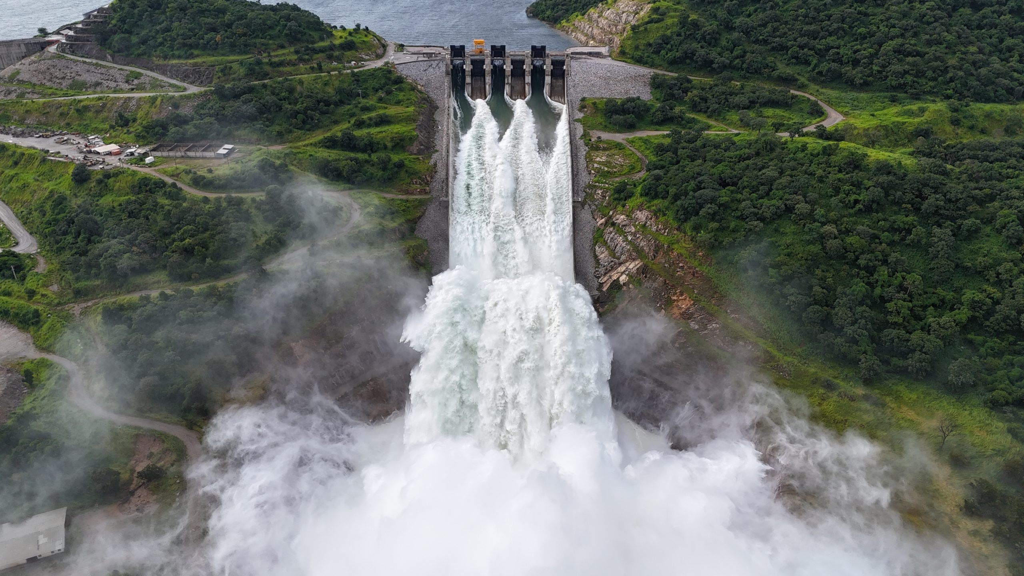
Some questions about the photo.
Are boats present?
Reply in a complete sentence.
No, the photo shows no boat.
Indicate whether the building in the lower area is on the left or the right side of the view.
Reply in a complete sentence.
You can find the building in the lower area on the left side of the picture.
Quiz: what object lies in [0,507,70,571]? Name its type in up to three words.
building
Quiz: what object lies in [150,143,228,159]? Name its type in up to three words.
building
